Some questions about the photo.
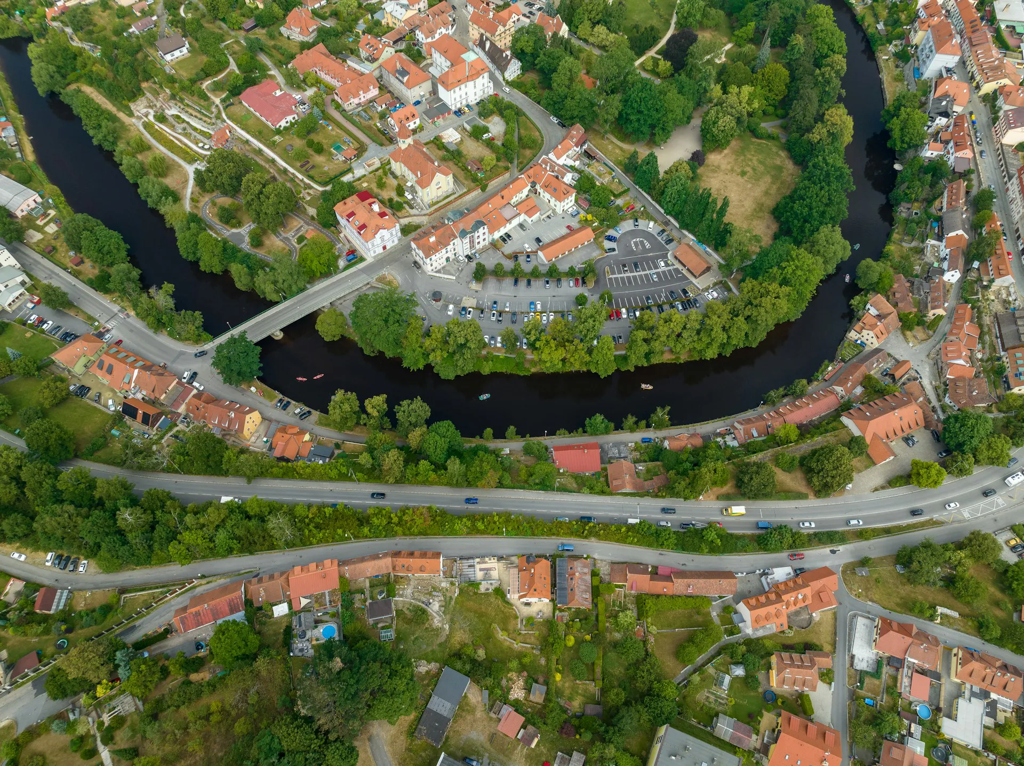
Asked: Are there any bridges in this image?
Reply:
Yes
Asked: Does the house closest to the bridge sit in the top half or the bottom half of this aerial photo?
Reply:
top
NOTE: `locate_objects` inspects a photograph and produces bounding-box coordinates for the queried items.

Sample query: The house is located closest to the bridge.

[334,191,400,260]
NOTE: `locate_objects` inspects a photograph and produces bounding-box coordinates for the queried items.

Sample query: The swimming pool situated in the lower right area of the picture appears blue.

[915,702,933,722]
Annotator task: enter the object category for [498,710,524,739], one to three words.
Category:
shed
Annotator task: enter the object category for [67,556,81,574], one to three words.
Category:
car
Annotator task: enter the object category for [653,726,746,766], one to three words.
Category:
house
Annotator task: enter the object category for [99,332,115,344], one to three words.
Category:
vehicle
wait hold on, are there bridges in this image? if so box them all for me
[200,257,383,367]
